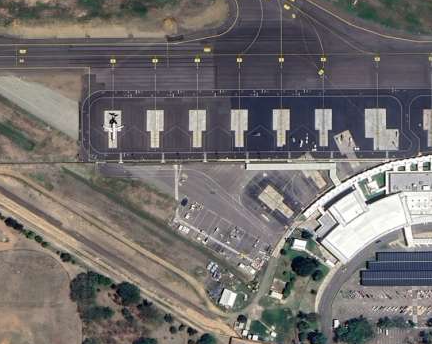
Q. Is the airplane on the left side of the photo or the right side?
left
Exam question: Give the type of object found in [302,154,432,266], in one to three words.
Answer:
building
